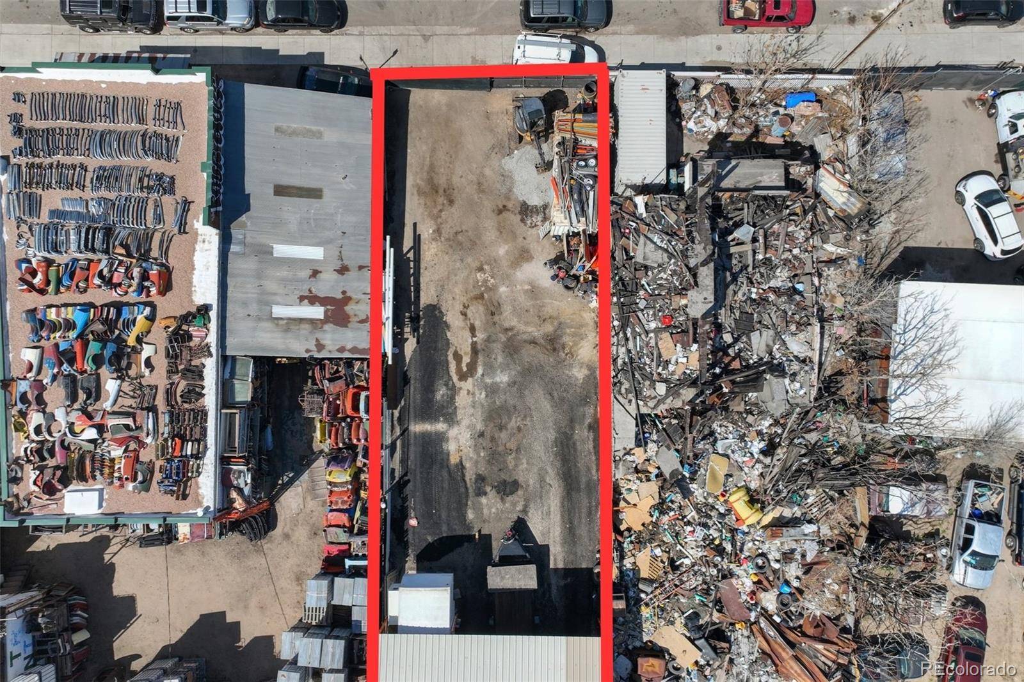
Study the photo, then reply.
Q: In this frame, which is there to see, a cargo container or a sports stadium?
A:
cargo container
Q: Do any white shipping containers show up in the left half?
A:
No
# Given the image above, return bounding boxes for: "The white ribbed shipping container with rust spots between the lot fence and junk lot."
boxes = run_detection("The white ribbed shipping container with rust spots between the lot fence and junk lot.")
[611,69,668,198]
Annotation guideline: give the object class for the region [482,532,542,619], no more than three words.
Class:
trailer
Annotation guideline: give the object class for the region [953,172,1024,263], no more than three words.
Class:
car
